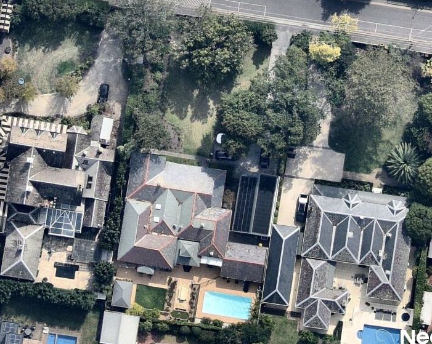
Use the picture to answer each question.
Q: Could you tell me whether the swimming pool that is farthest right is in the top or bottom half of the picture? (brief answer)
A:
bottom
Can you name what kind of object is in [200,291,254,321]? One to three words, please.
swimming pool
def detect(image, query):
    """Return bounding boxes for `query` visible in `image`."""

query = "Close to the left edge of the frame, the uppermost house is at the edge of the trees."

[0,115,118,282]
